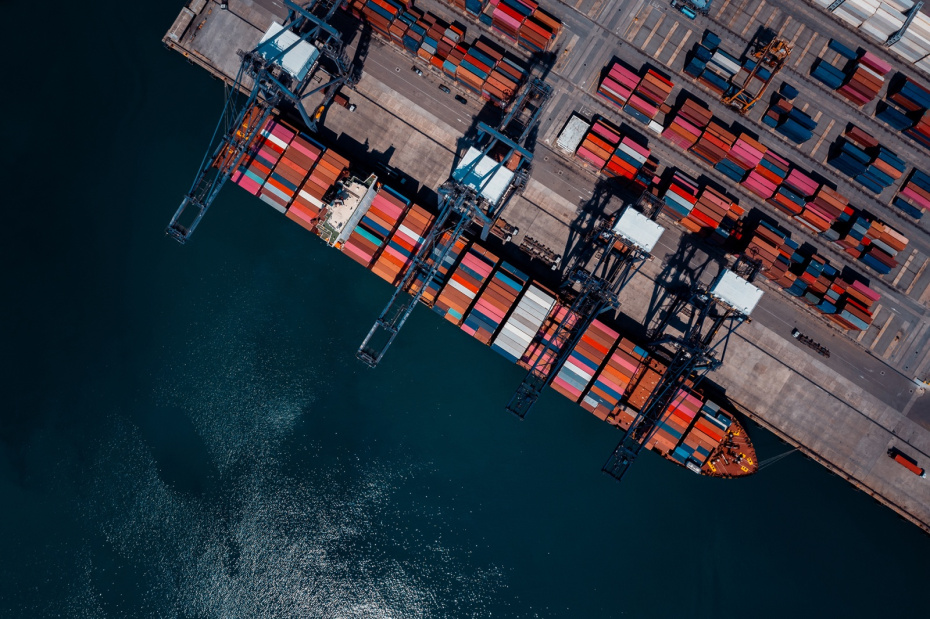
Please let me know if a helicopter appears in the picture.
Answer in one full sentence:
No, the picture doesn't show any helicopter.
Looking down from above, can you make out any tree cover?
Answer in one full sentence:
No, the scene doesn't show any tree cover.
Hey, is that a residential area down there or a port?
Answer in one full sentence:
This image shows a port.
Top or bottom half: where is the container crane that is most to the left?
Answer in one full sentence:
It is in the top half that the container crane that is most to the left appears.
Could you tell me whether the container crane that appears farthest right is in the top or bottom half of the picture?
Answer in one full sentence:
You can find the container crane that appears farthest right in the top half.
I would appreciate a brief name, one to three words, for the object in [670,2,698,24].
truck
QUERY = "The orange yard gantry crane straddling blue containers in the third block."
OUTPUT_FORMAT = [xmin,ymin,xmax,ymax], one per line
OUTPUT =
[723,34,796,113]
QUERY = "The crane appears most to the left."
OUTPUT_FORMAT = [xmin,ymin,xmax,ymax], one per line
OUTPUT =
[163,0,367,249]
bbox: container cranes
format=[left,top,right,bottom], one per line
[599,250,768,479]
[723,34,796,113]
[354,77,554,369]
[505,186,669,418]
[163,0,367,249]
